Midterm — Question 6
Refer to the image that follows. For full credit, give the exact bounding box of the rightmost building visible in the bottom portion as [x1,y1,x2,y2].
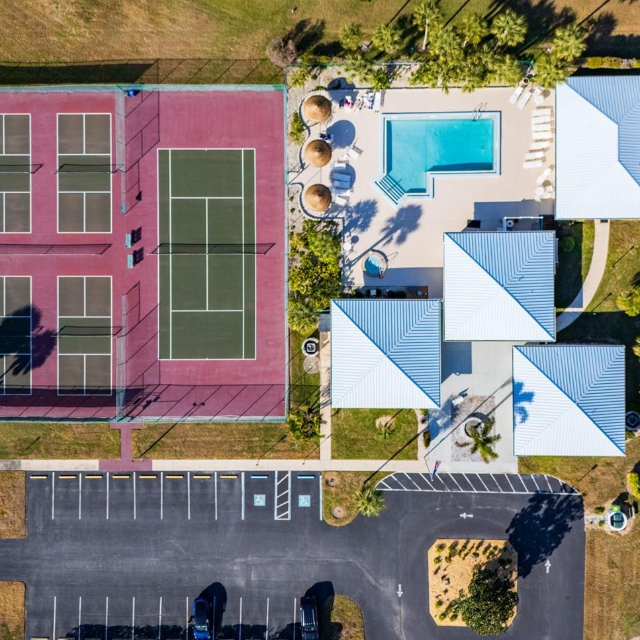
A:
[512,344,626,457]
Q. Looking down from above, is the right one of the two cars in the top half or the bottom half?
bottom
